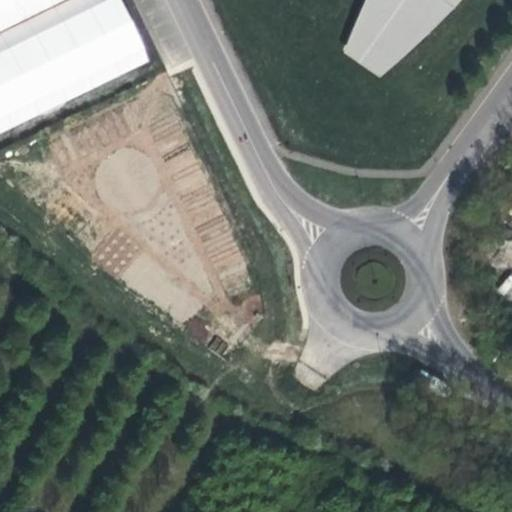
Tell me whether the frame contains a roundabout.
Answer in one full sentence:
Yes, a roundabout can be made out from above.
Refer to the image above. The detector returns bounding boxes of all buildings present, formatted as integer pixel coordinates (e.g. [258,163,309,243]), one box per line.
[0,0,150,136]
[498,276,512,296]
[344,0,462,78]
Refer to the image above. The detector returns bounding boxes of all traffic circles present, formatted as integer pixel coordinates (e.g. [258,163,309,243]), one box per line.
[302,207,444,351]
